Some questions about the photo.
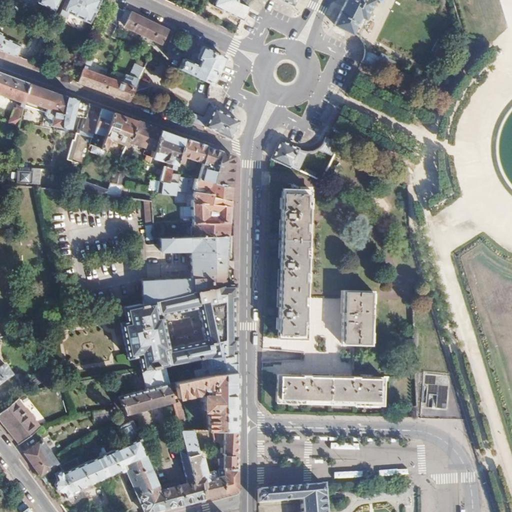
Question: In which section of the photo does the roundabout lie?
top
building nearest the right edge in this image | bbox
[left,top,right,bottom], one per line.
[422,373,449,410]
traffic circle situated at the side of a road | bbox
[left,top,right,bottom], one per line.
[225,0,352,160]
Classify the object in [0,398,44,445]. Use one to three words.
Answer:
house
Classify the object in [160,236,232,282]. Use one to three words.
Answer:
building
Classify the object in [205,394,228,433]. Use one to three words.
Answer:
house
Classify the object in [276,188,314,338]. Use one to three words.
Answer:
building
